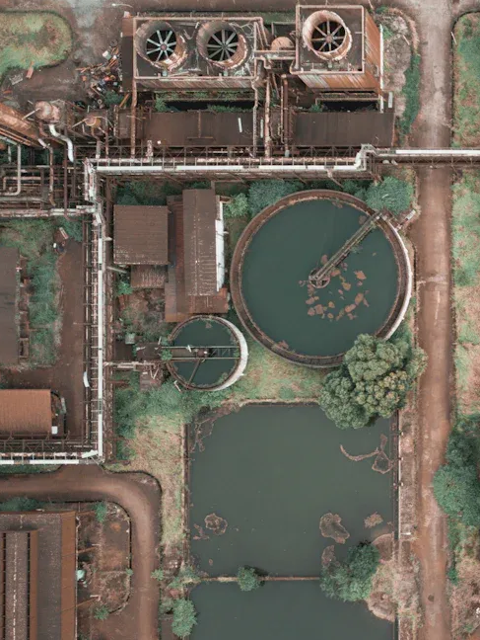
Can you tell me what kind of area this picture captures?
industrial area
